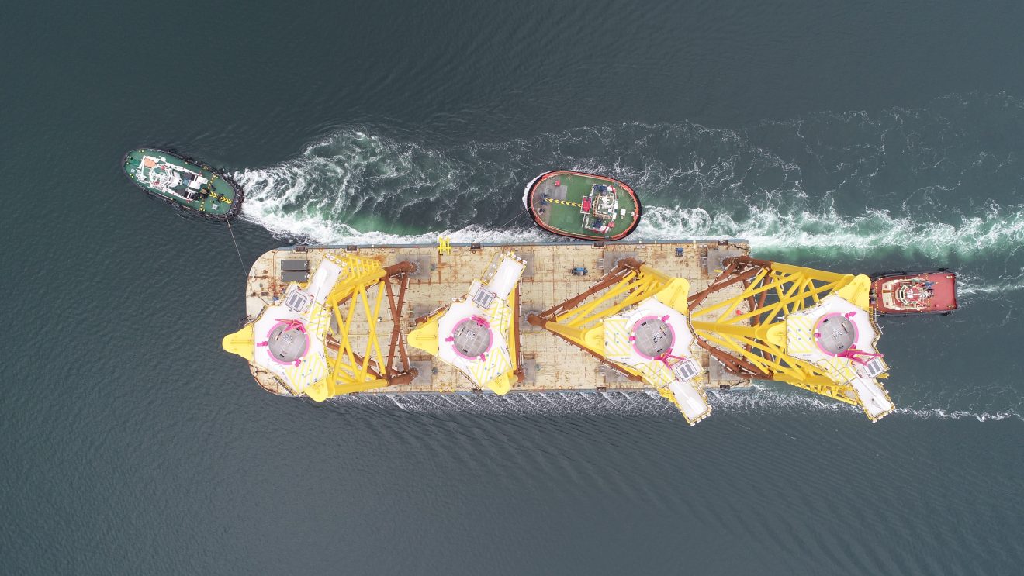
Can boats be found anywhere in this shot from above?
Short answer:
Yes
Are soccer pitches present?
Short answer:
No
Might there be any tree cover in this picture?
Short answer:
No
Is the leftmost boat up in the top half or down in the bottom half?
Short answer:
top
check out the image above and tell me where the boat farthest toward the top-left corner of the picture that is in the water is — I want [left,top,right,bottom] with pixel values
[120,147,247,222]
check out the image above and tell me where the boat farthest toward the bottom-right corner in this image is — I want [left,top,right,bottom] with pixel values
[865,269,959,317]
